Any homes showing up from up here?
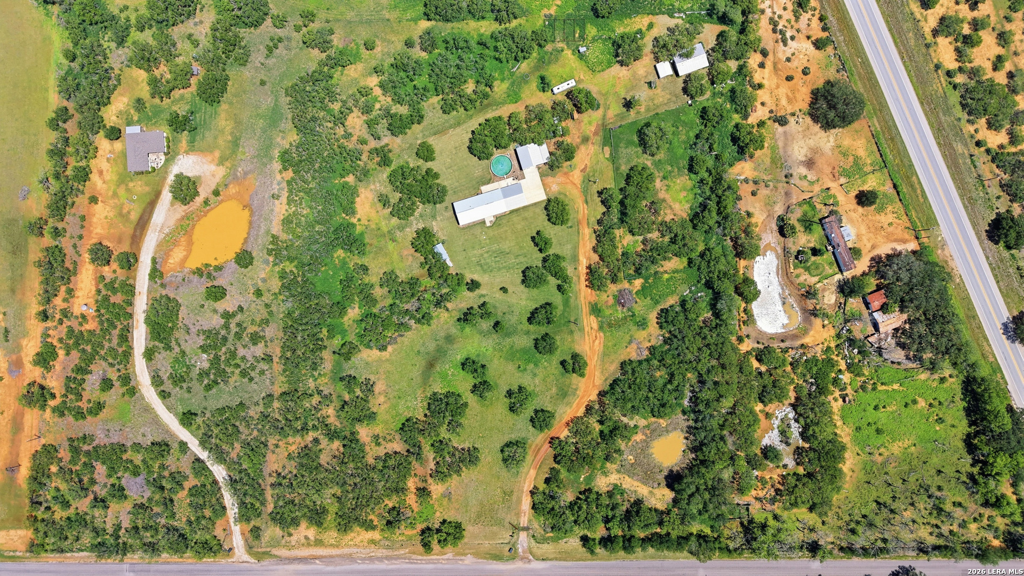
Yes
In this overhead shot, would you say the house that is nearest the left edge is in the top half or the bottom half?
top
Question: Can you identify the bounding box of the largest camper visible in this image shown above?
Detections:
[552,79,576,96]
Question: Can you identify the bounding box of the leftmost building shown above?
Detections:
[123,125,168,172]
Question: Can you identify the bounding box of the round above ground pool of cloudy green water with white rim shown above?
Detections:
[490,153,513,178]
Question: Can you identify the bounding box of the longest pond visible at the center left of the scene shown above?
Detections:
[184,199,251,269]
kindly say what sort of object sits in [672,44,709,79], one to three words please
barn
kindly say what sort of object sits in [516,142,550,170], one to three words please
building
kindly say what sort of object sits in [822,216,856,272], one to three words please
house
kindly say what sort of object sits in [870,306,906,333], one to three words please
barn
